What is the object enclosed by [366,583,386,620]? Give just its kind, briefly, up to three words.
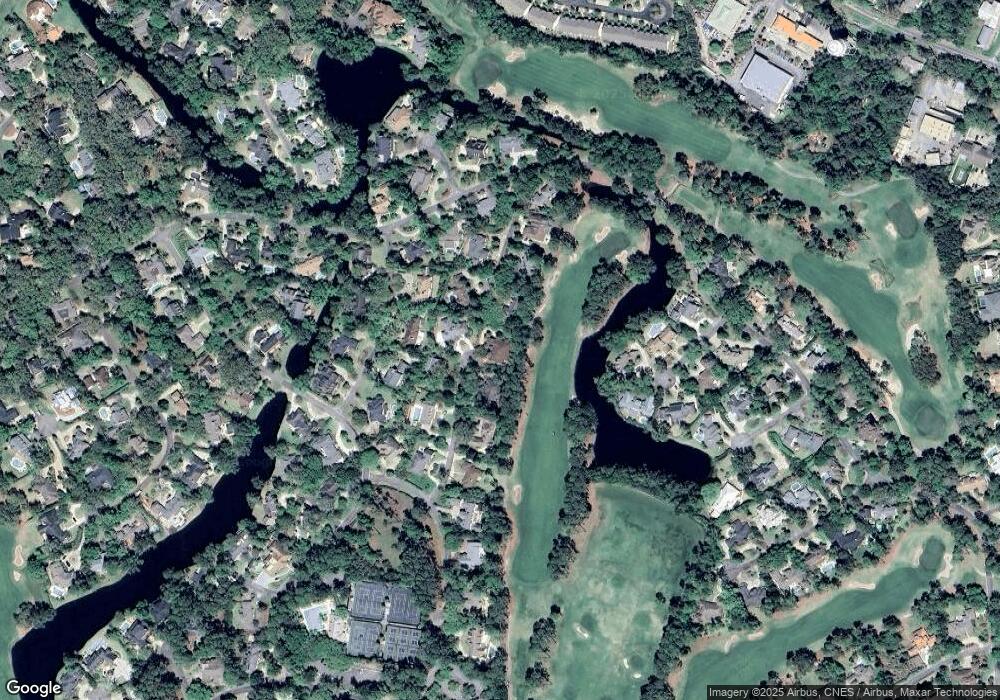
tennis court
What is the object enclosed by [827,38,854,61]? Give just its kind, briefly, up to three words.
water tower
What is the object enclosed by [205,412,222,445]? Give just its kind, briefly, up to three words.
house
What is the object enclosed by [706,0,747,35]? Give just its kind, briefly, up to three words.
building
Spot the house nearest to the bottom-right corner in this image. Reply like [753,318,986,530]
[948,669,977,685]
